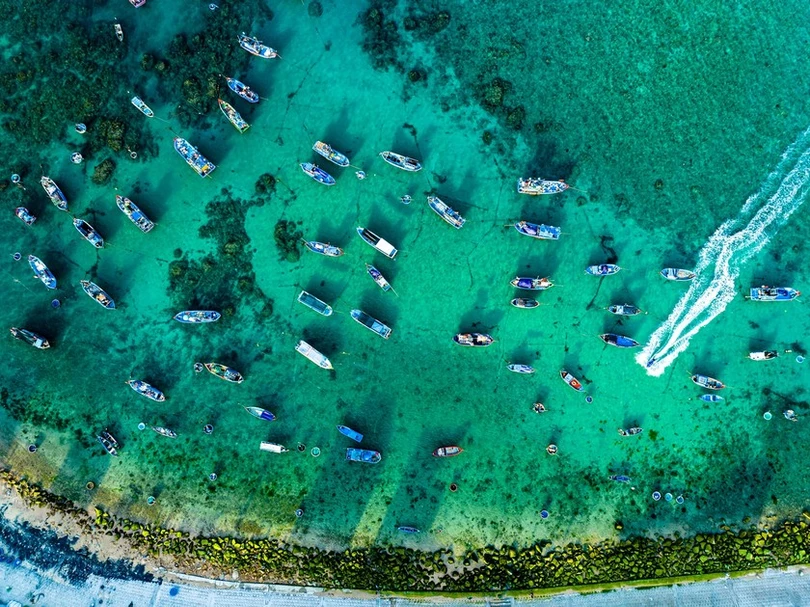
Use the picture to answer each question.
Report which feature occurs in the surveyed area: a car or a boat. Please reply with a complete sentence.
The image shows a boat.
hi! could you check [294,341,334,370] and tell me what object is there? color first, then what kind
white boat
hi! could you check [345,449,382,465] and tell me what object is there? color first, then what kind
blue boat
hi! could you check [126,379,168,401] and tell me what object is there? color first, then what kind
blue boat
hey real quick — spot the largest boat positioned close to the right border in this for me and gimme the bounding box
[747,283,806,301]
